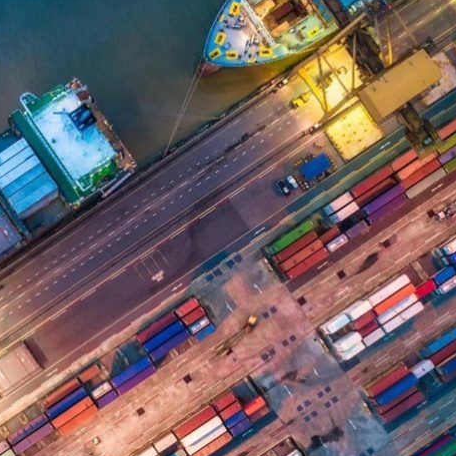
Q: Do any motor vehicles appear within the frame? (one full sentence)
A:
Yes, the photo shows a motor vehicle.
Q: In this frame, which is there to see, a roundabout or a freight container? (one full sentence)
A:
This aerial view contains a freight container.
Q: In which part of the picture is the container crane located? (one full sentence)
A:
You can find the container crane in the top right area of the picture.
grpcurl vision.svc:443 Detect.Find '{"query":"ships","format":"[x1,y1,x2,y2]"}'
[0,78,134,261]
[199,0,381,73]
